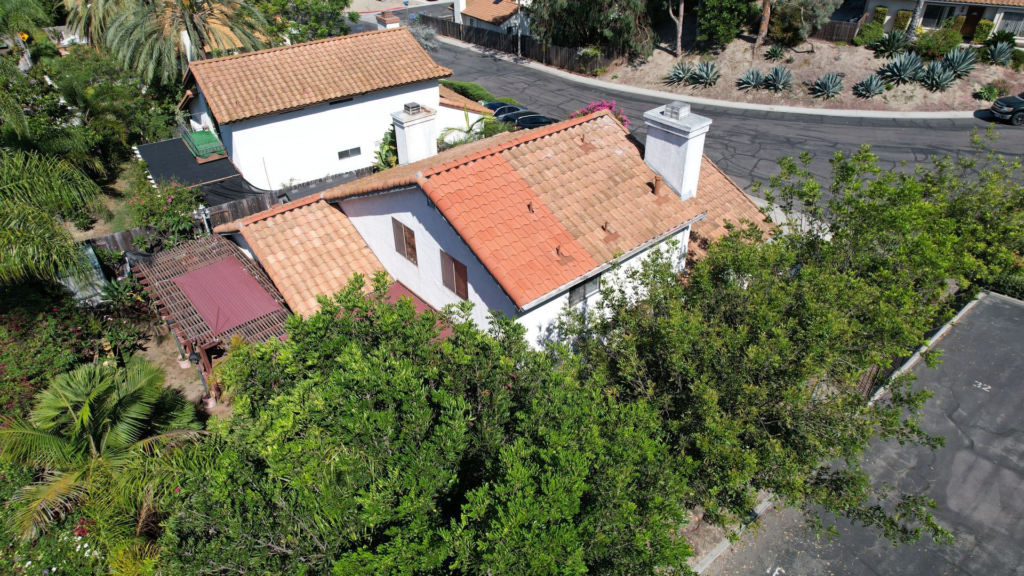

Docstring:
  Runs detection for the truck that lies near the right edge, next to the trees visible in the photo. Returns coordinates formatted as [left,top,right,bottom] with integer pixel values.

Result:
[985,93,1024,126]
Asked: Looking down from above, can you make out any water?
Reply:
No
